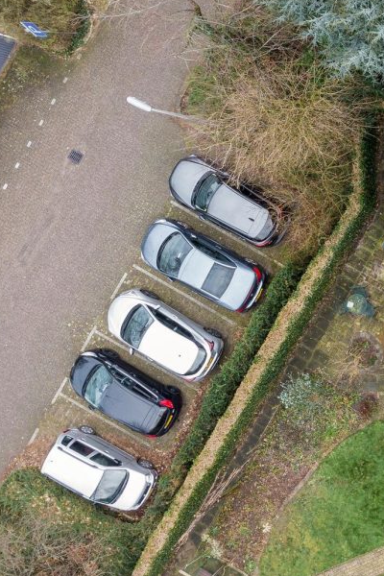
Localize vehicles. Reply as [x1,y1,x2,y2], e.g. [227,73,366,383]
[72,344,191,440]
[27,425,165,514]
[141,215,273,314]
[169,152,293,247]
[111,287,231,384]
